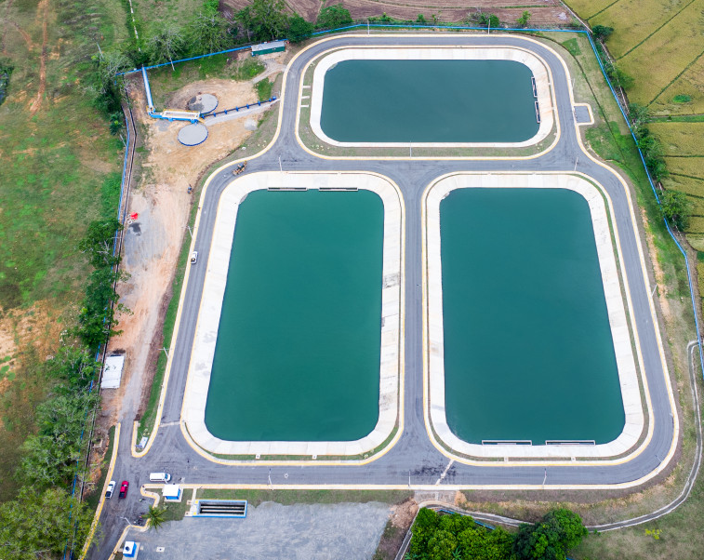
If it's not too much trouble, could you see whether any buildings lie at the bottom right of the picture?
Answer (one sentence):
No, there is no building at the bottom right of the picture.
